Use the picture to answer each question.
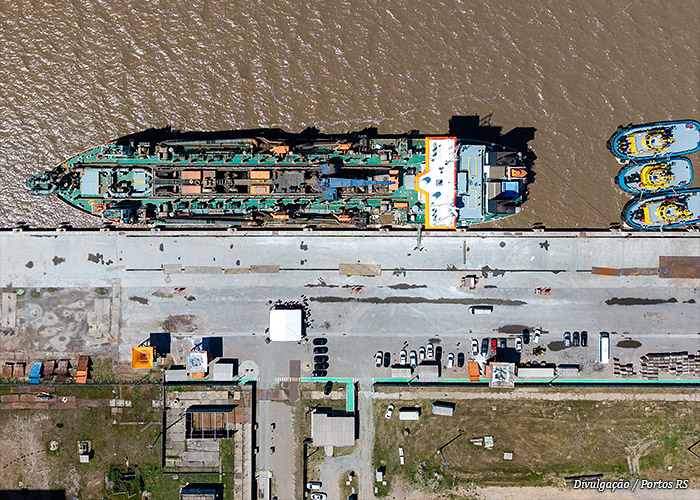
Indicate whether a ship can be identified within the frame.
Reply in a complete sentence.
Yes, the image includes a ship.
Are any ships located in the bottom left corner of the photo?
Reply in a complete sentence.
No, there is no ship in the bottom left corner of the photo.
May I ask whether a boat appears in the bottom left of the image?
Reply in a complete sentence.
No, there's no boat to be seen in the bottom left of the image.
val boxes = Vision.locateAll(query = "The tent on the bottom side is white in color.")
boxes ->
[269,307,304,341]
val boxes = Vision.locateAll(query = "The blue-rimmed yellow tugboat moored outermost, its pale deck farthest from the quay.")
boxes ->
[604,119,700,161]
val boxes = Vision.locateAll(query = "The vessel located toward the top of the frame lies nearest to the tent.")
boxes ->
[27,135,531,230]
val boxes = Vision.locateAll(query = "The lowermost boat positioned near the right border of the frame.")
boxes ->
[619,185,700,228]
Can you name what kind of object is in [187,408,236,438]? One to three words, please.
shed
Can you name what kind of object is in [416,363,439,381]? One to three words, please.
building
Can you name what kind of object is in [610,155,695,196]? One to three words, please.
boat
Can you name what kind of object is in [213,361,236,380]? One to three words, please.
building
